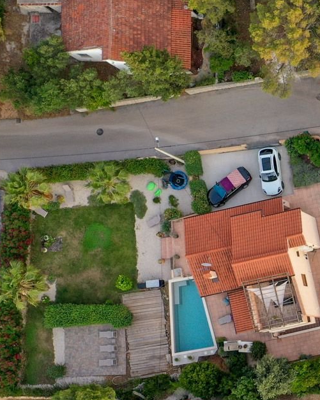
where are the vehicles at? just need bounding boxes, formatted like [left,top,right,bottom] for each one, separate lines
[258,149,284,197]
[208,165,254,205]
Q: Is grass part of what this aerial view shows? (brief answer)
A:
Yes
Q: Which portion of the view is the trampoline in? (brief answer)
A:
center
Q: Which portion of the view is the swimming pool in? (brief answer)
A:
bottom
